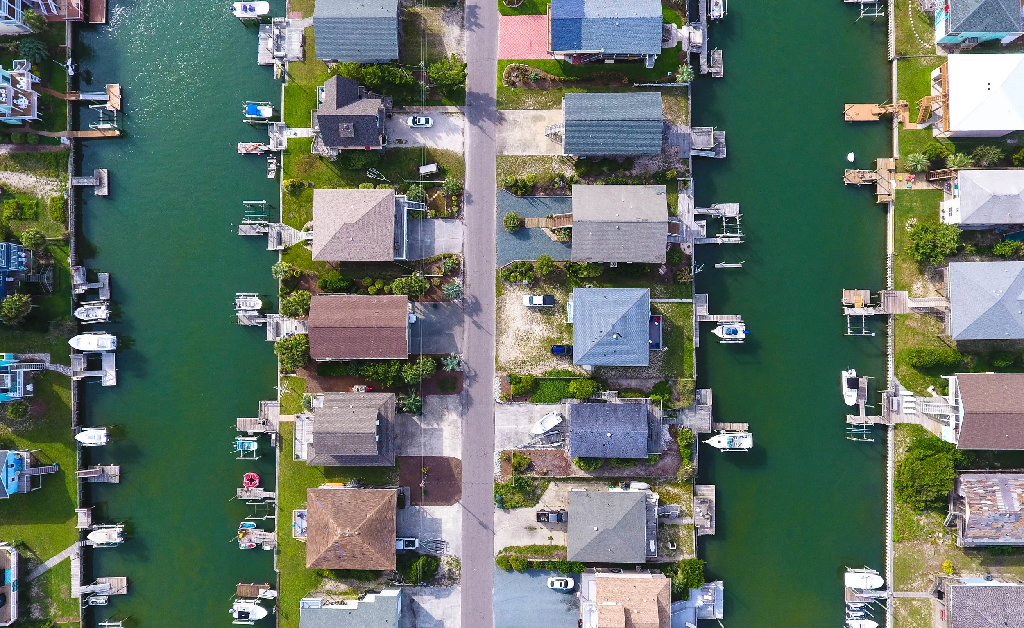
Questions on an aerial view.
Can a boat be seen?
Yes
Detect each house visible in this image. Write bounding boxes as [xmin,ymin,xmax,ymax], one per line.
[0,59,47,124]
[0,239,55,301]
[567,288,662,371]
[545,92,674,157]
[311,73,393,163]
[916,53,1024,137]
[308,293,412,362]
[567,488,679,563]
[291,393,396,466]
[547,0,672,69]
[914,0,1024,50]
[581,567,671,628]
[909,262,1024,339]
[928,168,1024,232]
[0,545,21,628]
[553,185,681,263]
[299,189,425,260]
[298,584,404,628]
[313,0,405,69]
[921,373,1024,449]
[928,571,1024,628]
[0,449,59,502]
[942,469,1024,547]
[0,355,46,404]
[561,390,676,458]
[293,486,405,570]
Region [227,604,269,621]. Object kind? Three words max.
boat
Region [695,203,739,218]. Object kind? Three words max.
pier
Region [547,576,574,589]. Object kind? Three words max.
vehicle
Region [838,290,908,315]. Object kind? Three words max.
pier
